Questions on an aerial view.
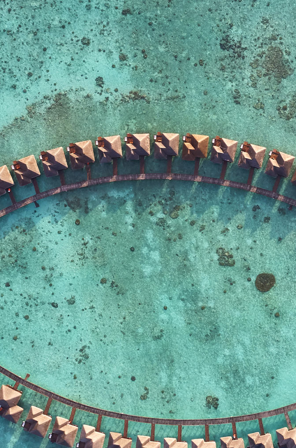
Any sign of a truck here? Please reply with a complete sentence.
No, the picture doesn't show any truck.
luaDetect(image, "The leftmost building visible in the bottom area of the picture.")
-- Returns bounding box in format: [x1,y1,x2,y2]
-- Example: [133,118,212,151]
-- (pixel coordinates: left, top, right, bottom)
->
[0,382,24,423]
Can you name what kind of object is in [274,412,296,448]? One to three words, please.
house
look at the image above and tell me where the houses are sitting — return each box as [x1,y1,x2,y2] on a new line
[94,135,122,174]
[123,132,150,173]
[38,147,68,185]
[152,131,179,173]
[76,415,106,448]
[246,419,273,448]
[218,423,244,448]
[48,407,79,448]
[10,155,41,193]
[21,397,53,438]
[236,139,266,184]
[65,140,95,179]
[191,426,216,448]
[208,134,238,179]
[164,425,187,448]
[0,165,16,203]
[0,382,24,423]
[107,420,131,448]
[274,412,296,448]
[263,148,295,192]
[182,131,209,175]
[136,424,160,448]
